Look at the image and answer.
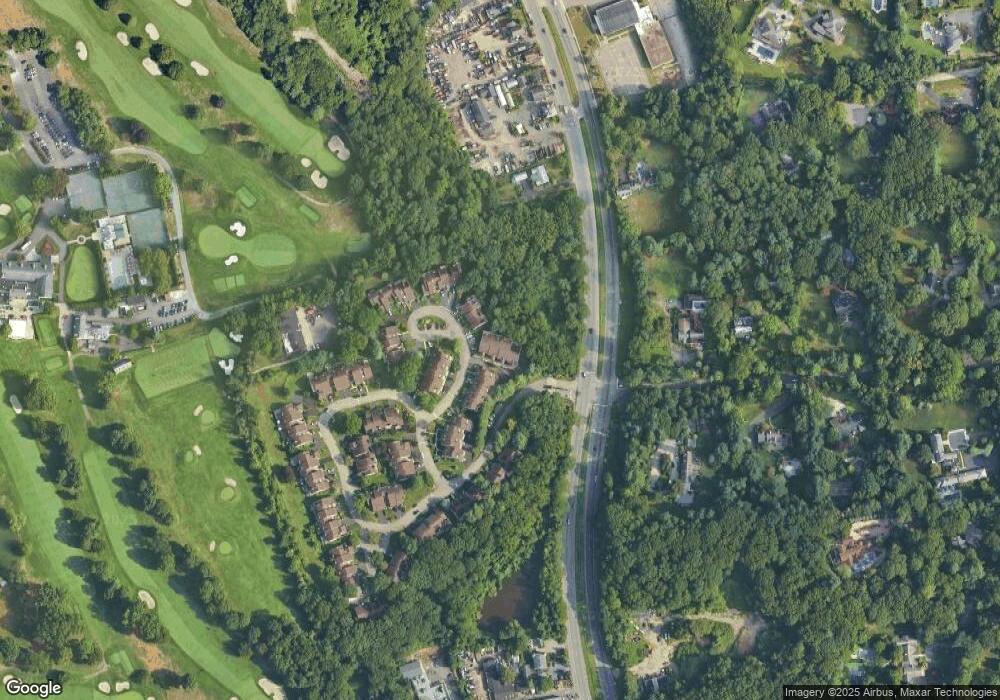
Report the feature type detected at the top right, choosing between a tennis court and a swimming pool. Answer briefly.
swimming pool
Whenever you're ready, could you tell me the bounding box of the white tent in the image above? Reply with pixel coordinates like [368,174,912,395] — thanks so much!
[8,319,27,337]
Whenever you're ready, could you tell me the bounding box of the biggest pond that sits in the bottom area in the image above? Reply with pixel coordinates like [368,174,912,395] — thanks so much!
[482,552,546,628]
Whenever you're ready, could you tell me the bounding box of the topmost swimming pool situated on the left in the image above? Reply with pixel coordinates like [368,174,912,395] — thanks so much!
[103,246,141,293]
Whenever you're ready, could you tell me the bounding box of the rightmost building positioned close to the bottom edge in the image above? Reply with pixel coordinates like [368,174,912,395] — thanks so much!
[899,638,925,690]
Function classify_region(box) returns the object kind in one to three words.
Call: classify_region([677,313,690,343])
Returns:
barn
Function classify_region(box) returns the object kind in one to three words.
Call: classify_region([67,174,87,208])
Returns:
tennis court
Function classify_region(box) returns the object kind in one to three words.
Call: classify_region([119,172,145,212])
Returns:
tennis court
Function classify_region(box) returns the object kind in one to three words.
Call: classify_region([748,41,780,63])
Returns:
swimming pool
